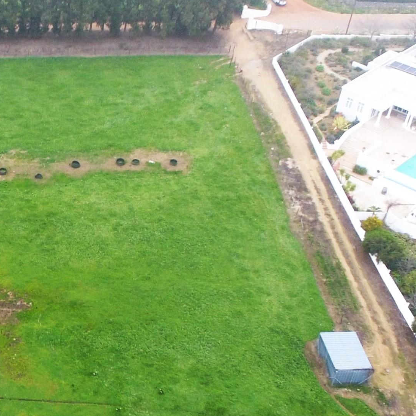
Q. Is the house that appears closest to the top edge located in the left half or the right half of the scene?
right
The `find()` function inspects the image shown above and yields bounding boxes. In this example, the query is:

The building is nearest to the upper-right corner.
[335,42,416,131]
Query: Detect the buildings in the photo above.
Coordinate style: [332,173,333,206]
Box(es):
[335,42,416,131]
[312,328,376,392]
